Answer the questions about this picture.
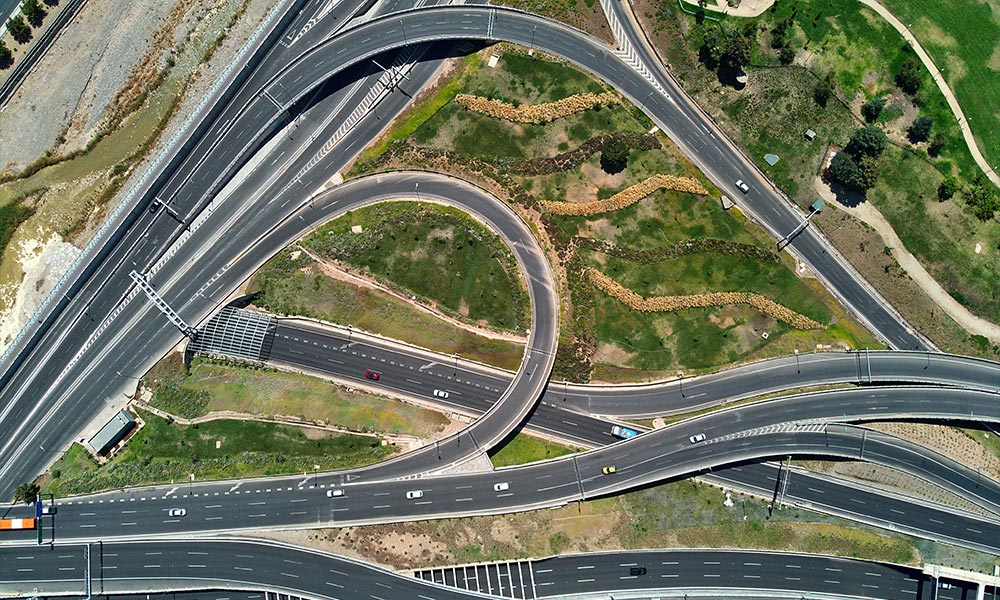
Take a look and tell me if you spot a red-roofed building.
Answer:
No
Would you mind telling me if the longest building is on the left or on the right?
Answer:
left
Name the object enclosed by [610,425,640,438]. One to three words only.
vehicle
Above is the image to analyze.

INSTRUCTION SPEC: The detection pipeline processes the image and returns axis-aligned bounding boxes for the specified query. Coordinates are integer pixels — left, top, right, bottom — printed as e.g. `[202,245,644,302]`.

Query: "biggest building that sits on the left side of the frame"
[89,408,143,453]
